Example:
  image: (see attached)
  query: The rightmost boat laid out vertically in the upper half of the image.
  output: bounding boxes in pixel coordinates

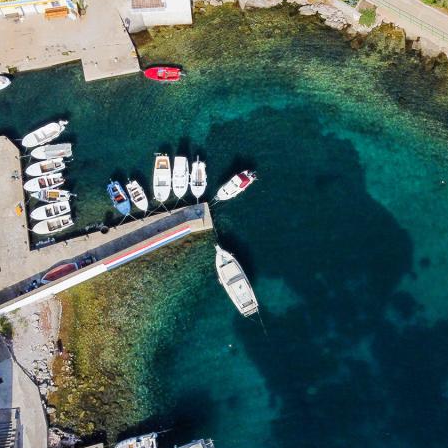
[189,152,208,199]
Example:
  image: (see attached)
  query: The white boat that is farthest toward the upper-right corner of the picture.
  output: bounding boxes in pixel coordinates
[215,169,254,200]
